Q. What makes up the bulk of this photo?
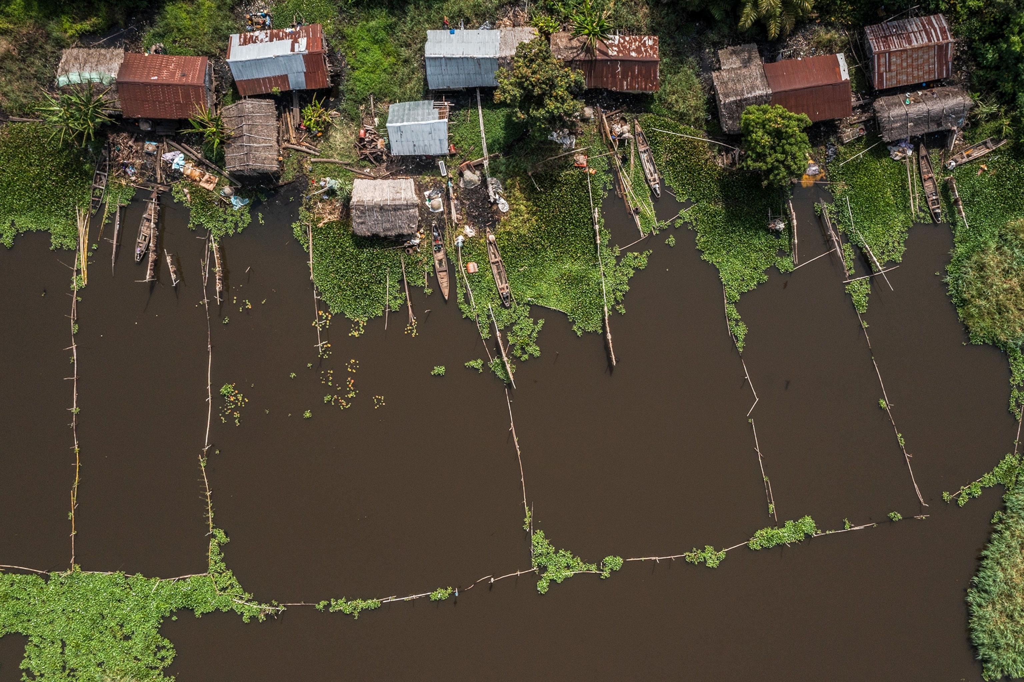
water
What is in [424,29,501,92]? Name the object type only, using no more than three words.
shed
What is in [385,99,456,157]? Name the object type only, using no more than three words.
shed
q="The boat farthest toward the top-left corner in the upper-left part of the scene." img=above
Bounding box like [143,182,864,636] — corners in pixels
[90,141,109,217]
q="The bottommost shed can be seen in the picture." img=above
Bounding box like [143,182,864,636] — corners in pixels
[349,175,420,239]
